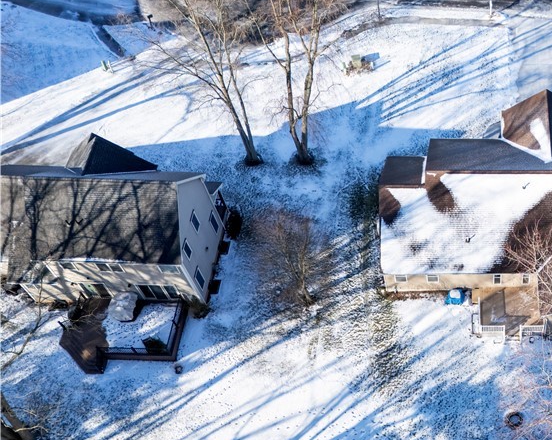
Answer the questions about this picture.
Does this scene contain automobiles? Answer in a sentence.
No, no automobile can be seen from above.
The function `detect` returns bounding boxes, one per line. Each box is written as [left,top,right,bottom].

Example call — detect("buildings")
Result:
[0,137,232,304]
[377,90,552,336]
